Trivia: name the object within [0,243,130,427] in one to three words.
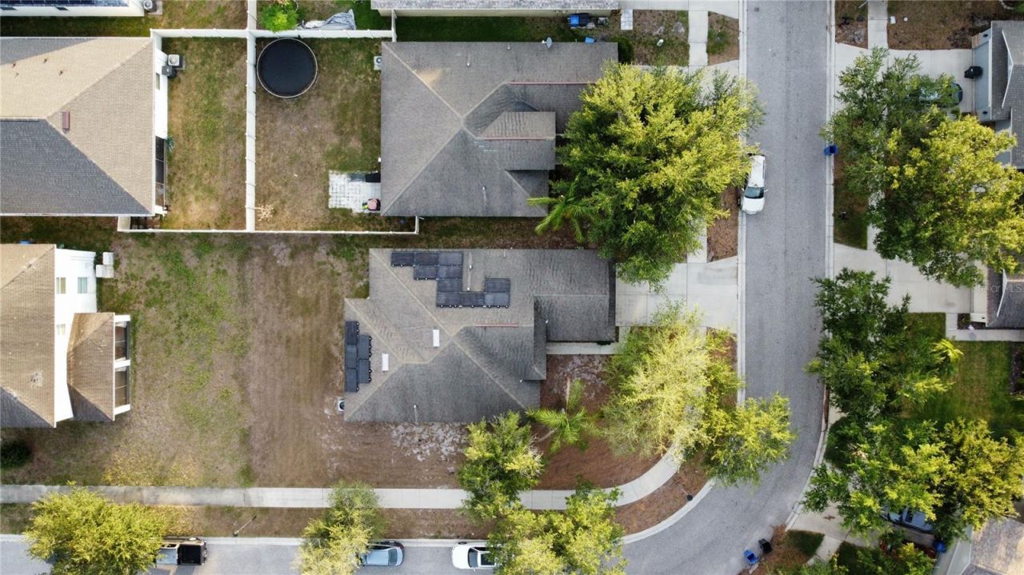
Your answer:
house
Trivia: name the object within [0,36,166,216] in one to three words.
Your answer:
house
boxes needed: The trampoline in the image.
[258,39,319,100]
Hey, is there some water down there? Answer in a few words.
No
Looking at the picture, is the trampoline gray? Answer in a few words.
No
